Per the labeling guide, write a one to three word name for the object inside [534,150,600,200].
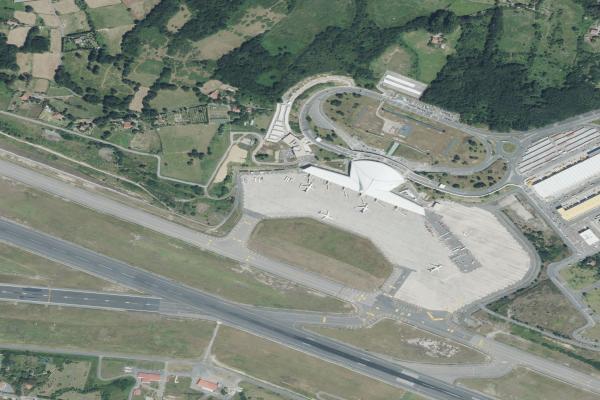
hangar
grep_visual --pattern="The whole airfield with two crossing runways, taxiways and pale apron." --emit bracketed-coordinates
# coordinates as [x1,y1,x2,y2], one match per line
[0,159,600,400]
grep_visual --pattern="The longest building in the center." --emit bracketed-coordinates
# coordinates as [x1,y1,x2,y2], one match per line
[303,159,425,216]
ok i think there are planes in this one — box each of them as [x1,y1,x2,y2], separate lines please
[360,204,369,214]
[321,210,333,221]
[431,264,442,275]
[304,183,313,193]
